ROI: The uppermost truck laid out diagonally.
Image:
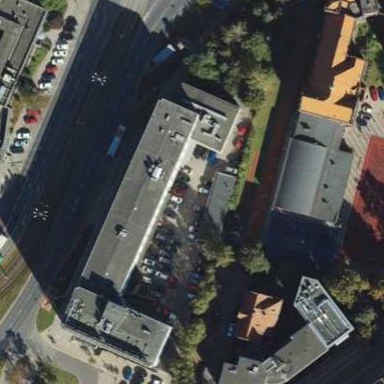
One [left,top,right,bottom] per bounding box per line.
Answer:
[150,40,183,63]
